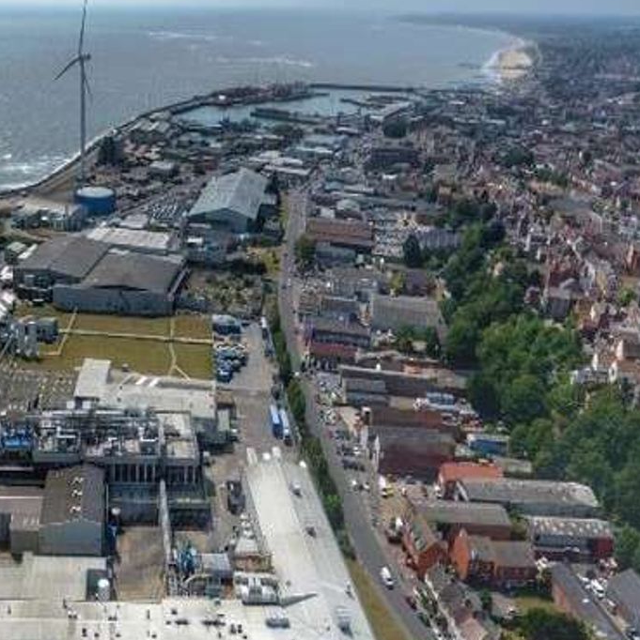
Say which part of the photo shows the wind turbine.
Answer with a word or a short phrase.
top left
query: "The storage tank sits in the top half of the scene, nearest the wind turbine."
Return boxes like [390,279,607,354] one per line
[74,188,115,217]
